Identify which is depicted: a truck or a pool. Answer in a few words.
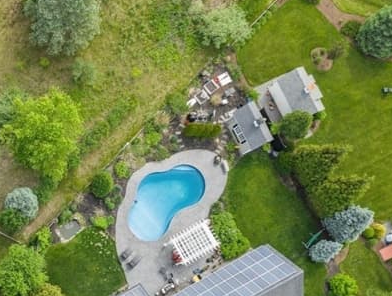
pool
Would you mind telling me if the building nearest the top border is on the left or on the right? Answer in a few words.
right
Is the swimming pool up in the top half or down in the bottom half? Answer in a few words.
bottom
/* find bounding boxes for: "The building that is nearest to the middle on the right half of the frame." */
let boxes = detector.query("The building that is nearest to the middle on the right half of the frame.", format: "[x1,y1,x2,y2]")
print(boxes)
[224,102,274,155]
